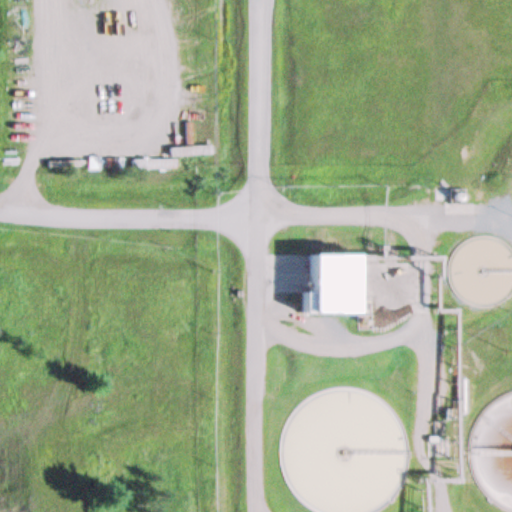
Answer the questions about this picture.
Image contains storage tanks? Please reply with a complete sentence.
Yes, there's a storage tank here.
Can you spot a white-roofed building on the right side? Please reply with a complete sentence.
Yes, looking on the right side, one can make out a white-roofed building.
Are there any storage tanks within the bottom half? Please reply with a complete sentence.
Yes, looking within the bottom half, one can make out a storage tank.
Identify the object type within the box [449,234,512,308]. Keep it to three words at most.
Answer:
storage tank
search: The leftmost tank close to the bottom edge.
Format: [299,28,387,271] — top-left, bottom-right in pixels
[281,386,408,512]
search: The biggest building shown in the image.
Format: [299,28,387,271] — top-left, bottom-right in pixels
[302,253,366,318]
